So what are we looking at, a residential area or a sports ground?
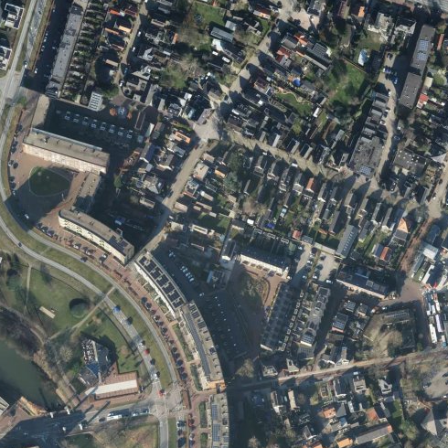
residential area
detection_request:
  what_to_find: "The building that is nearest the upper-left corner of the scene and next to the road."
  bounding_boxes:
[1,2,24,26]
